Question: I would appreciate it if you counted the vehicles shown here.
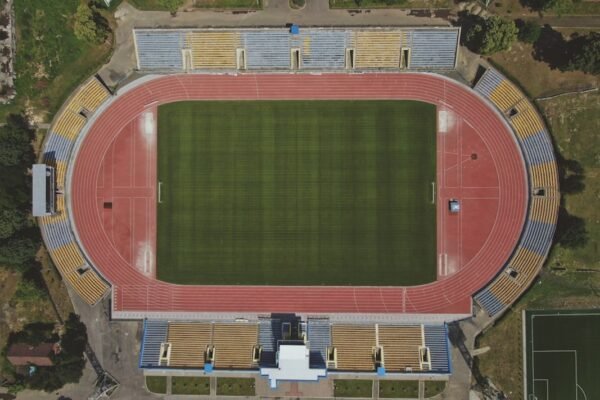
zero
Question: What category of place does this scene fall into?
sports ground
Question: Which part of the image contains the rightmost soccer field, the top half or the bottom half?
bottom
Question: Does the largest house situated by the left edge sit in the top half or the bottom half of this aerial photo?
bottom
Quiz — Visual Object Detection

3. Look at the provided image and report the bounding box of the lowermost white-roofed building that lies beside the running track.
[260,335,328,389]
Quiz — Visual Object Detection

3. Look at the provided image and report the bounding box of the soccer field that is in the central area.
[157,100,437,285]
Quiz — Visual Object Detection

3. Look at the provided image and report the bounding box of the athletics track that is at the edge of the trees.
[68,70,530,319]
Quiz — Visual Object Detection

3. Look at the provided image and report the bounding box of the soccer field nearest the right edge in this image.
[523,309,600,400]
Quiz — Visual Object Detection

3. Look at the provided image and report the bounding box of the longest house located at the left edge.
[6,342,57,365]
